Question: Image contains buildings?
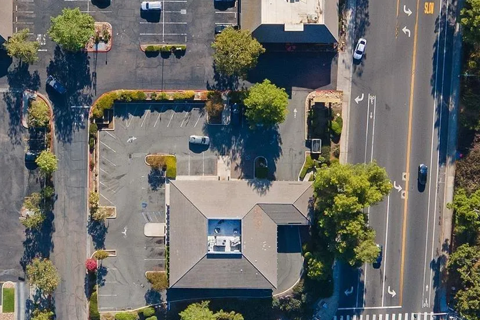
Yes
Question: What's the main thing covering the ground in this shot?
paved ground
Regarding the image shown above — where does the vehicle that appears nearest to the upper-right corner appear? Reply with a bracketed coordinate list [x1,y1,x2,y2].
[351,37,367,60]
